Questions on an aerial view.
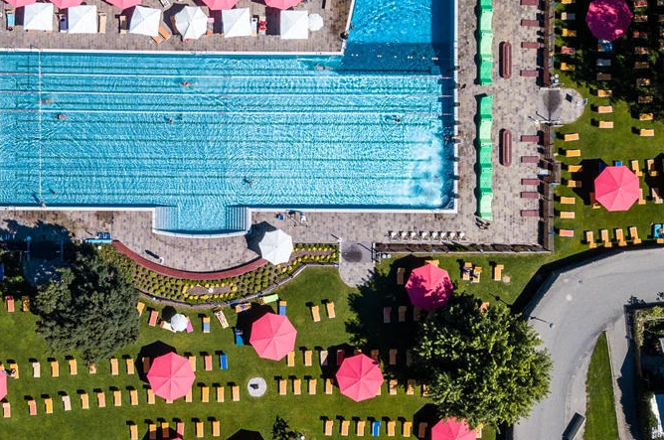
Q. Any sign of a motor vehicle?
No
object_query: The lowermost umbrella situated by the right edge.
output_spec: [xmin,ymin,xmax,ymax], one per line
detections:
[592,166,637,211]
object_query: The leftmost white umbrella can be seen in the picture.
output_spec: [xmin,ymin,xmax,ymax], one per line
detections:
[25,3,54,30]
